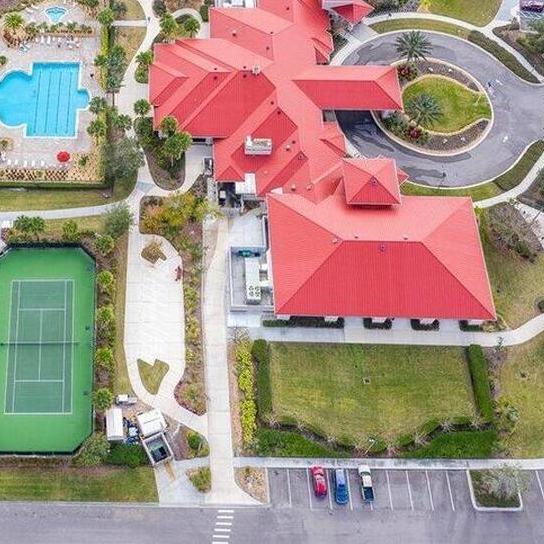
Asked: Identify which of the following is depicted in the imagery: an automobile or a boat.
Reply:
automobile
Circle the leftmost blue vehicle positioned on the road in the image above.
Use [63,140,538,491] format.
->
[333,470,349,503]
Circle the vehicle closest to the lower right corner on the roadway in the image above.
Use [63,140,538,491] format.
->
[356,464,377,504]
